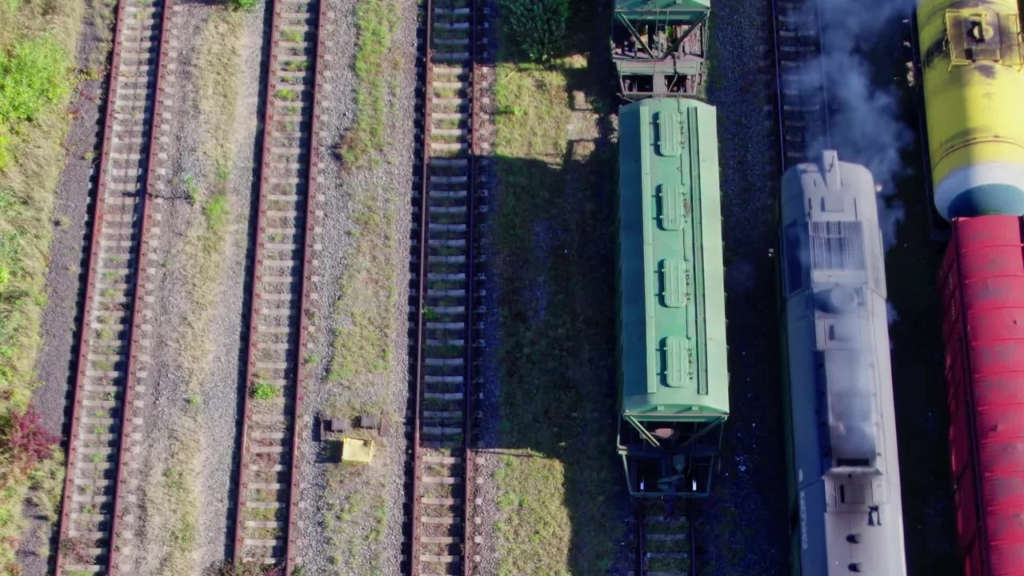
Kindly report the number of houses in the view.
0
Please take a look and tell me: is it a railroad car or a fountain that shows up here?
railroad car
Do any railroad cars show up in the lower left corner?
No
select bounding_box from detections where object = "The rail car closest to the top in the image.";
[607,0,712,102]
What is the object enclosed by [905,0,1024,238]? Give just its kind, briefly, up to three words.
rail car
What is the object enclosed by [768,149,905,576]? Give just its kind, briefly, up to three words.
rail car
